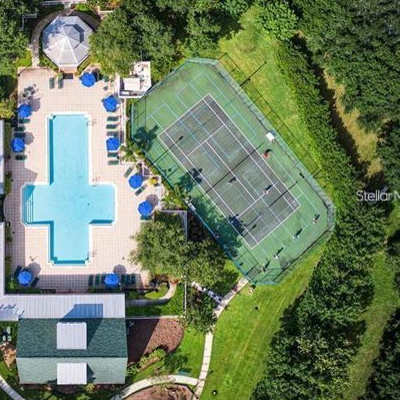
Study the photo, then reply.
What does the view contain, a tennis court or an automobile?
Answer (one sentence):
Of the two, only a tennis court appears.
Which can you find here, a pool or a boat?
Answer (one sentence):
There is a pool in the scene.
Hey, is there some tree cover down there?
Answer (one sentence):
Yes, there is tree cover in the image.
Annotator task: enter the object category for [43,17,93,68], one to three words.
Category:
gazebo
